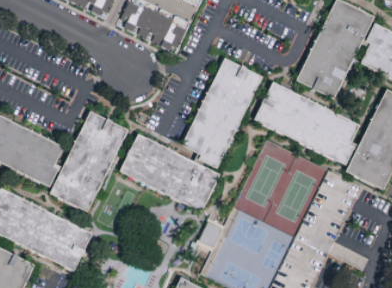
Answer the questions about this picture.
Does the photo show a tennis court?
Yes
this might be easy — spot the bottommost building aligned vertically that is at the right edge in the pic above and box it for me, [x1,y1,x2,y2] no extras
[346,90,392,192]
